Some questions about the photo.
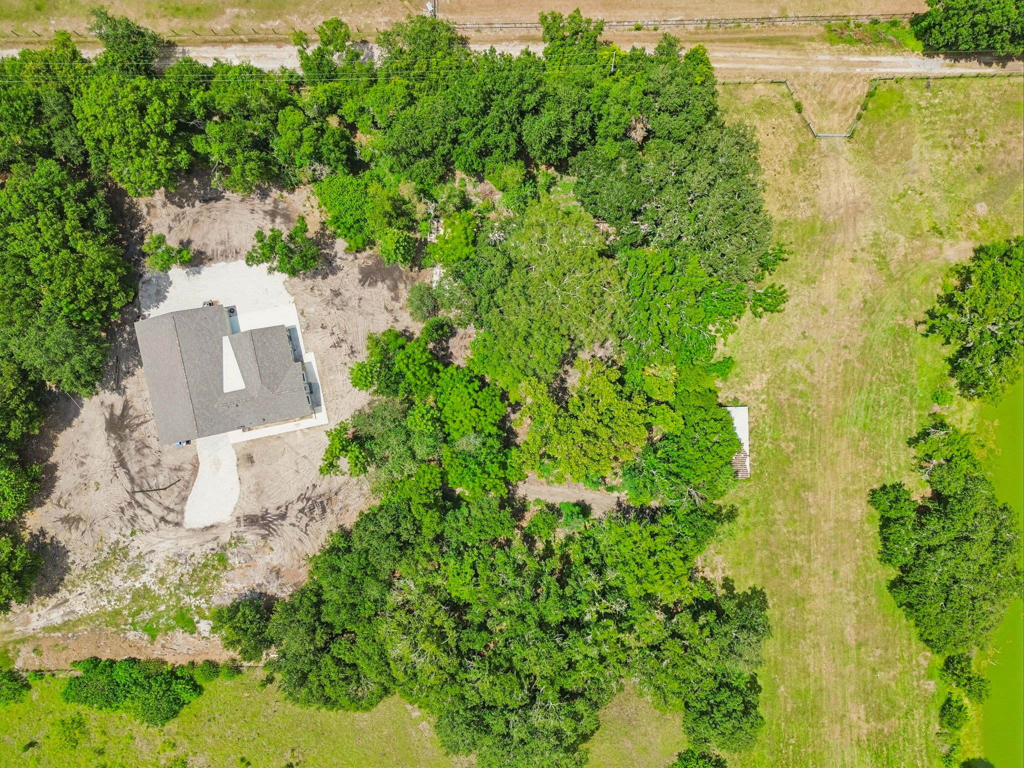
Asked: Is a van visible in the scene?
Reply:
No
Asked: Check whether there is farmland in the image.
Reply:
Yes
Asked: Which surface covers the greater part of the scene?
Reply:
trees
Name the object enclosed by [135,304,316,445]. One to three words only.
house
